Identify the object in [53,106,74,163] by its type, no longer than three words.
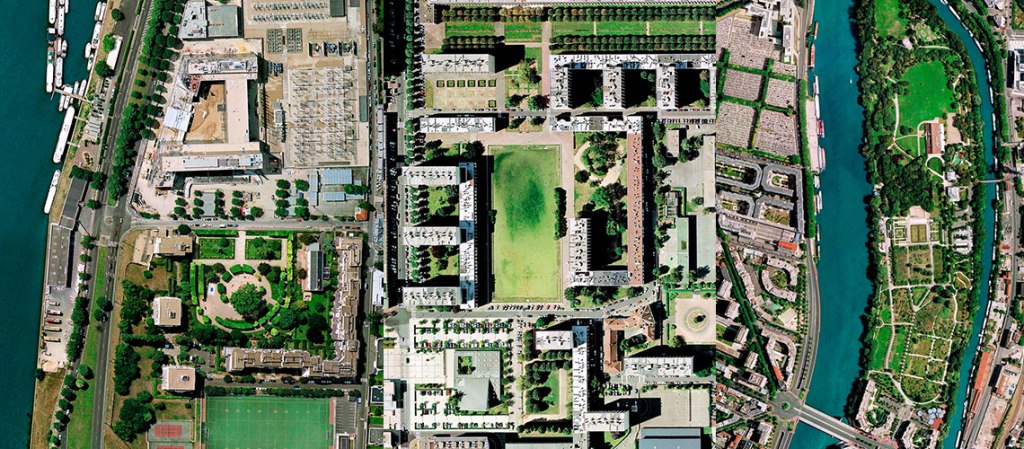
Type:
ship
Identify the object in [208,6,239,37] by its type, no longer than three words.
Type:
building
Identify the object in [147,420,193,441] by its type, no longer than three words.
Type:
tennis court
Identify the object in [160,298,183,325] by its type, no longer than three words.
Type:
house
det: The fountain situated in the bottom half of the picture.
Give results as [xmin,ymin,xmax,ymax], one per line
[686,309,708,331]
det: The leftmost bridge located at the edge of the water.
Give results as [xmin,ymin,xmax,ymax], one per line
[797,405,897,449]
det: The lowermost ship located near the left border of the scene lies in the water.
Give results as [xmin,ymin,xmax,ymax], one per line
[44,169,60,214]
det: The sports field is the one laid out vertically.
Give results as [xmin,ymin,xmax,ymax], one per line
[491,145,561,305]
